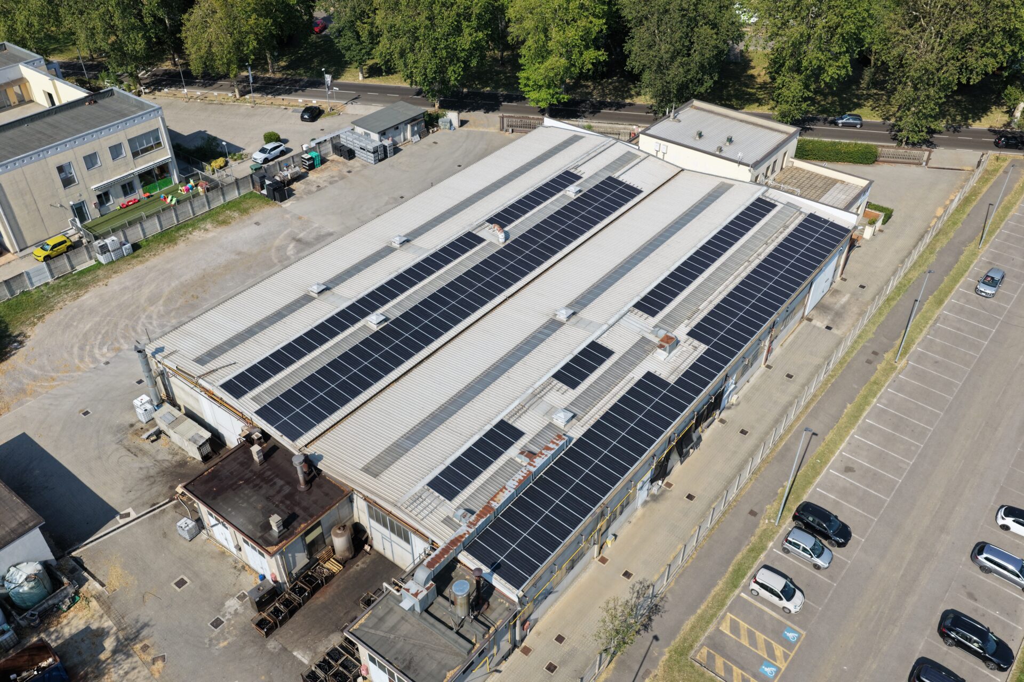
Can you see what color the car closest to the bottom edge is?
black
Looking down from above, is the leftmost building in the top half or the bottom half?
bottom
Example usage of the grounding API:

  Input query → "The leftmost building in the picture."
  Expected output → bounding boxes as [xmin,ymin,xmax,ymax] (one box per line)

[0,479,59,581]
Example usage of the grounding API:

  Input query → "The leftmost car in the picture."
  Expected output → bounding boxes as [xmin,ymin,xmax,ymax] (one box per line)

[33,230,77,259]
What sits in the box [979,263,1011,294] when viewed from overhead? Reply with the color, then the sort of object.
gray car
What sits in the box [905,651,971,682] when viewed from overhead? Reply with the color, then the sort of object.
black car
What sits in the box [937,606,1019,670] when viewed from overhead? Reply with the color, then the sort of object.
black car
